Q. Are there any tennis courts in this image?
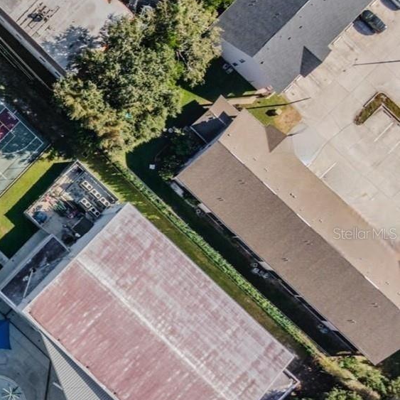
No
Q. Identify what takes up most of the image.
buildings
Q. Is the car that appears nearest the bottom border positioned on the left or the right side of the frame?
right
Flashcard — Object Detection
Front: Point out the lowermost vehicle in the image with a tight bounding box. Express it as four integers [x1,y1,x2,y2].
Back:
[362,8,389,32]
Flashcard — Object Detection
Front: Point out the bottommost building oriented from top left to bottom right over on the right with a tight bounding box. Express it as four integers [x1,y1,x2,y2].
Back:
[154,108,400,375]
